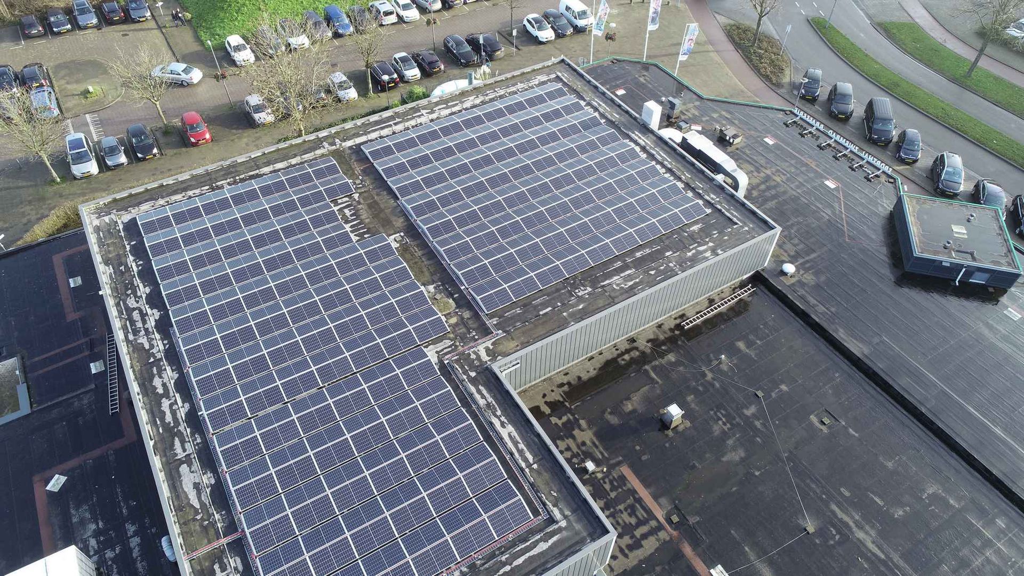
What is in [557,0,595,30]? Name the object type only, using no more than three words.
vehicle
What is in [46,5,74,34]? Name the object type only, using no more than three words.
car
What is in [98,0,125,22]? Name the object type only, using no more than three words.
car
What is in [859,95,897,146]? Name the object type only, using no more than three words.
vehicle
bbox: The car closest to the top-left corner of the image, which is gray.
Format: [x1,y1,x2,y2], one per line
[18,11,46,35]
